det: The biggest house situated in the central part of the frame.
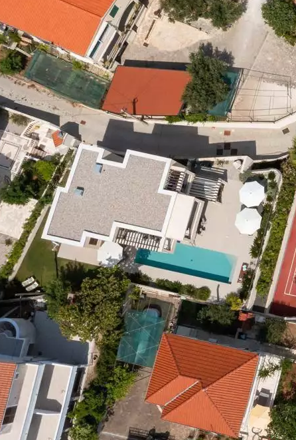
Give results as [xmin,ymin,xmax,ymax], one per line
[42,144,230,254]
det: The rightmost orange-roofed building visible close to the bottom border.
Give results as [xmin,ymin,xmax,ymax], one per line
[144,333,264,440]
